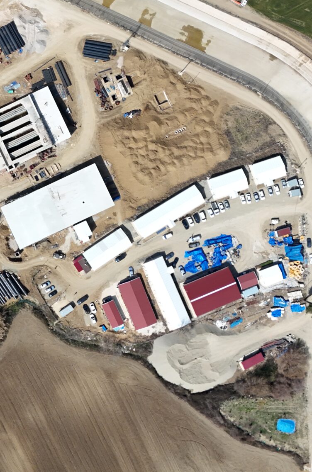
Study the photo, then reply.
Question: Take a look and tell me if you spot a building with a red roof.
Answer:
Yes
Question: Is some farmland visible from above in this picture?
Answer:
Yes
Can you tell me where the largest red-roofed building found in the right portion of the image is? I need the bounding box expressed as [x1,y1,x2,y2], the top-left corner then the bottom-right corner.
[181,267,242,316]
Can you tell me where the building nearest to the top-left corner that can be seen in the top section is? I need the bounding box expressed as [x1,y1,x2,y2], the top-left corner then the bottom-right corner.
[0,86,72,172]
